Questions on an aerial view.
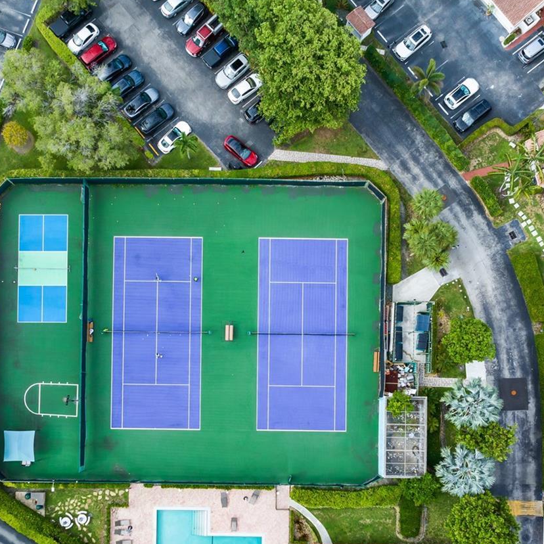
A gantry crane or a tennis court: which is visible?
tennis court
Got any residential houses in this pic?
Yes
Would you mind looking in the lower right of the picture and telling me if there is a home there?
Yes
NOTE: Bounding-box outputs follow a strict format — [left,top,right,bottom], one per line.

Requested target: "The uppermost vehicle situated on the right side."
[363,0,397,23]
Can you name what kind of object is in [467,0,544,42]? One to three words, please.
house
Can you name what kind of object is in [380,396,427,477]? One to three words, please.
house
